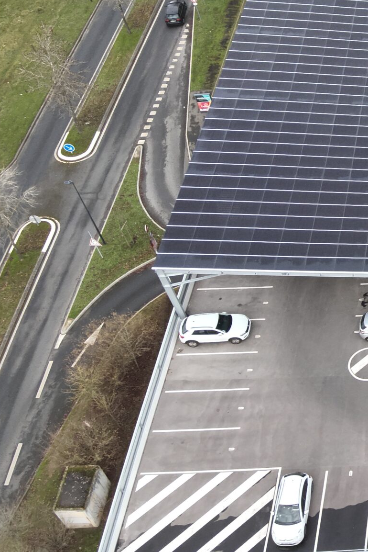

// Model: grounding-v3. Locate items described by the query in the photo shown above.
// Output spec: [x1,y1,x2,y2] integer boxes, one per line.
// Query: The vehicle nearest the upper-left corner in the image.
[161,0,188,29]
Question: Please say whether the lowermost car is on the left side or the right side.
right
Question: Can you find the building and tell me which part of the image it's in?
bottom left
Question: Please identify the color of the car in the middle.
white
